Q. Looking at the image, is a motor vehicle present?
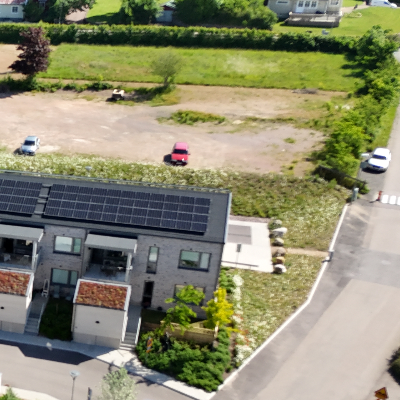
Yes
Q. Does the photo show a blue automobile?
No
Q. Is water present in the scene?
No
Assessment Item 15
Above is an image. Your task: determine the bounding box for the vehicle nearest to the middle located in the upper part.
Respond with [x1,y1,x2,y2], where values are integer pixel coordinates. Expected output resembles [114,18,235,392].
[168,137,193,161]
